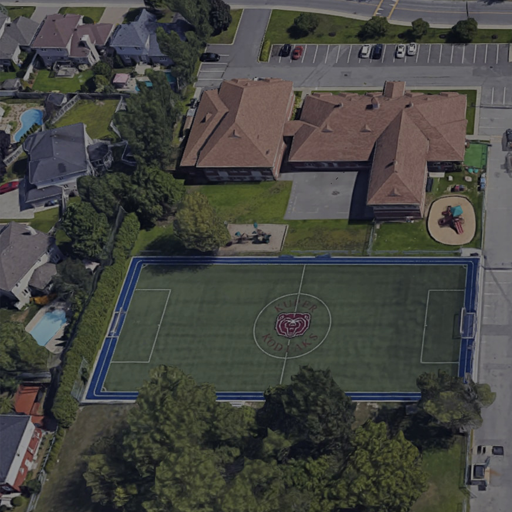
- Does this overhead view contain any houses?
Yes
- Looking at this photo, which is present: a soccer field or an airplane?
soccer field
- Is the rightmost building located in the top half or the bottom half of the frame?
top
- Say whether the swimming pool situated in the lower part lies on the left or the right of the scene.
left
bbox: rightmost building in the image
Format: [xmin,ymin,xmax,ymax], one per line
[178,65,468,222]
